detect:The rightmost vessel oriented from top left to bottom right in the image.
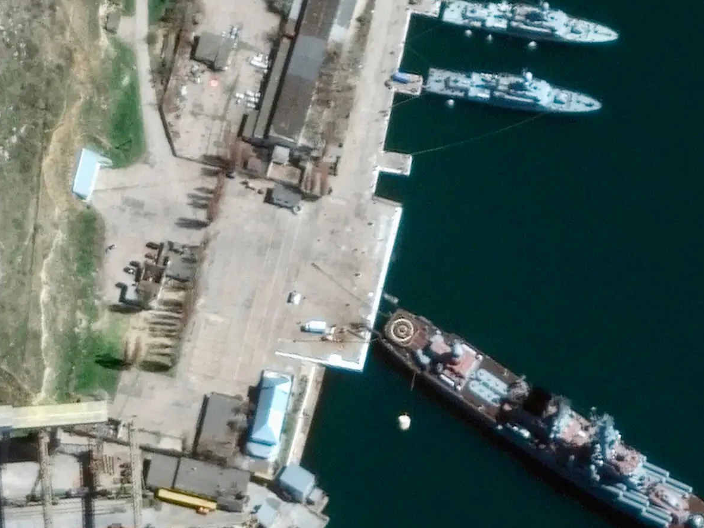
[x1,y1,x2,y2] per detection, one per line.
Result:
[382,312,704,528]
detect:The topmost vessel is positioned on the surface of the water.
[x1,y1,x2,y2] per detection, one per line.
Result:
[442,0,619,43]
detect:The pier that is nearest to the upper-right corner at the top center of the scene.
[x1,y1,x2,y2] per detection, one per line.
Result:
[411,0,441,19]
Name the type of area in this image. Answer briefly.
port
